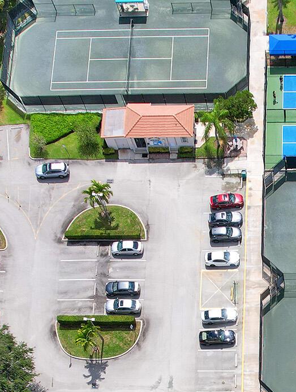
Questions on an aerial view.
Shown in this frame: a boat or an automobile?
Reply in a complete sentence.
The image shows an automobile.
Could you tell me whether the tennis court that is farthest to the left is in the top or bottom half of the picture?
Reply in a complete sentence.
You can find the tennis court that is farthest to the left in the top half.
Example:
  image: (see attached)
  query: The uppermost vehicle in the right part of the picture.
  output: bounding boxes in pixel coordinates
[210,194,243,211]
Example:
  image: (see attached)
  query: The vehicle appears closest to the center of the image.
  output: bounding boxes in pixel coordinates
[110,243,143,259]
